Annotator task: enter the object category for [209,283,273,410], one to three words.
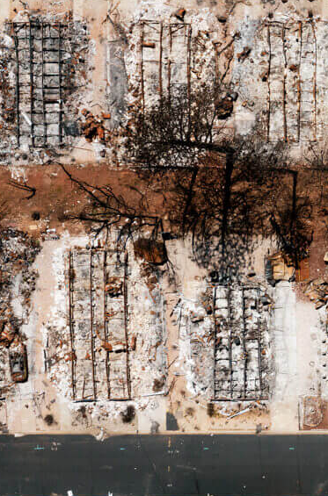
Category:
house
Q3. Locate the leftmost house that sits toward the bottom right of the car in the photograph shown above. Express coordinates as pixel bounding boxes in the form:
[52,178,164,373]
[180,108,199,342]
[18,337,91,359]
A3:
[66,247,139,402]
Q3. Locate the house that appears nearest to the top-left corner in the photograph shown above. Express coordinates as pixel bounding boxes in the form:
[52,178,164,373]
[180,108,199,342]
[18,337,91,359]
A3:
[5,19,71,148]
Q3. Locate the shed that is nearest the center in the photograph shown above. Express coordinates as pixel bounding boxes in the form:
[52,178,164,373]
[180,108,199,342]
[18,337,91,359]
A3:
[127,239,165,264]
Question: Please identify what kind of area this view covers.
residential area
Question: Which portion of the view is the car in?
bottom left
